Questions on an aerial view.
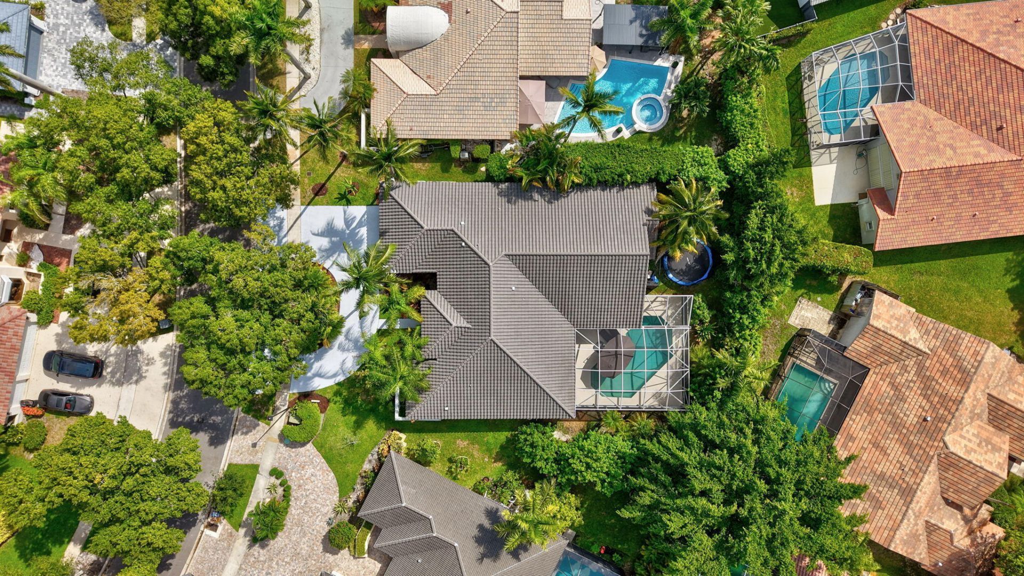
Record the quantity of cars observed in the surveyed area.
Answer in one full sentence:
I count 2 cars.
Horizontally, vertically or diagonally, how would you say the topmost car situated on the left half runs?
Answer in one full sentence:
In this picture, the topmost car situated on the left half lies horizontally.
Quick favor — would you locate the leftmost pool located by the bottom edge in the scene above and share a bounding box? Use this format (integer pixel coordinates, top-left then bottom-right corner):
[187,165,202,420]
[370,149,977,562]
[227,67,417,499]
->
[554,547,625,576]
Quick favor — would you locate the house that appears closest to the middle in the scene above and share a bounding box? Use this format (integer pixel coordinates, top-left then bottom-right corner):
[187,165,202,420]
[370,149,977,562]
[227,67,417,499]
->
[378,180,659,421]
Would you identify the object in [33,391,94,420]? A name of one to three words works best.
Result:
car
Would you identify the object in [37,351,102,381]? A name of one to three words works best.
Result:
car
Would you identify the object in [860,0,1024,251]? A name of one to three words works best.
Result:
house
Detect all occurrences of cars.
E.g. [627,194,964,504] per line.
[33,391,94,420]
[37,351,102,381]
